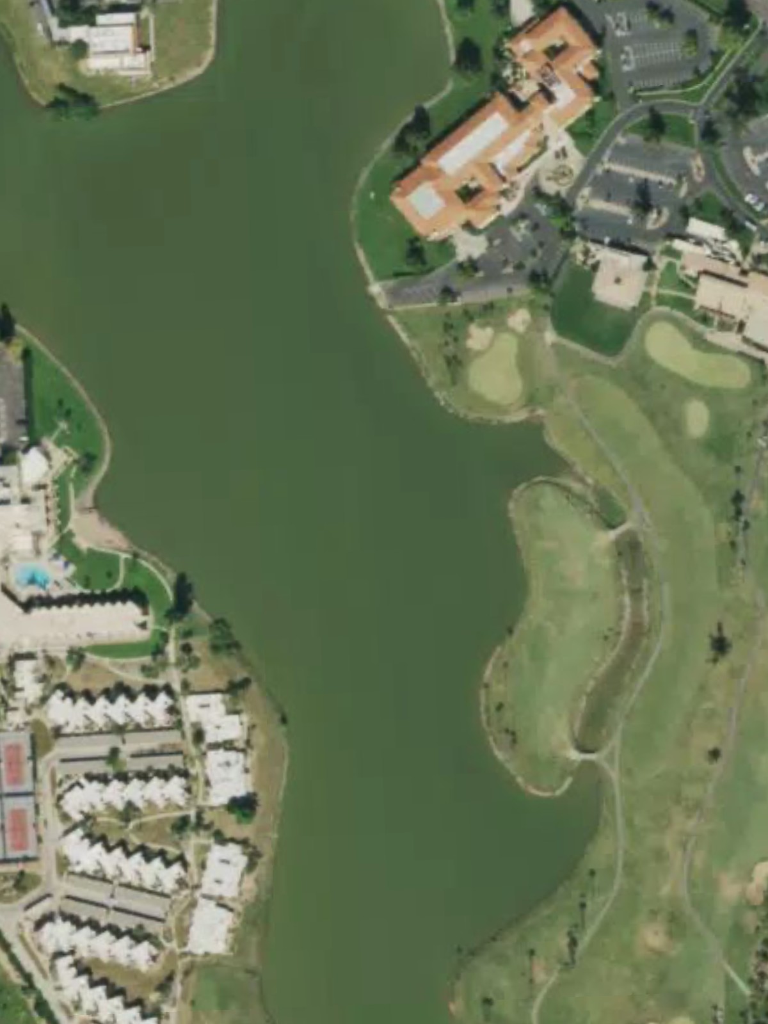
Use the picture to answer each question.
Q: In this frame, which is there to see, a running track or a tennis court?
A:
tennis court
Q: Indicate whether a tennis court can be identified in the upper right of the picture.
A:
No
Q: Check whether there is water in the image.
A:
Yes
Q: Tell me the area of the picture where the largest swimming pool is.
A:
left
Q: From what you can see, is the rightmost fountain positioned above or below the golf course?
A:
above it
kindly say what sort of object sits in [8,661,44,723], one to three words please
house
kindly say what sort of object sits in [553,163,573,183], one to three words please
fountain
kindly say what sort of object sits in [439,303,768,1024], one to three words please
golf course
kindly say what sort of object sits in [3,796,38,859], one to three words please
tennis court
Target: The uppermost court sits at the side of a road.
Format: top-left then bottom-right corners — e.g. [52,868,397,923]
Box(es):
[0,732,35,794]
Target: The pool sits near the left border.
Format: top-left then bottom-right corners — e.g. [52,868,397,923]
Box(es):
[12,560,54,590]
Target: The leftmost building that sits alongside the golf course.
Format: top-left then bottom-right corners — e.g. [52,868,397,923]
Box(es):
[391,6,603,242]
